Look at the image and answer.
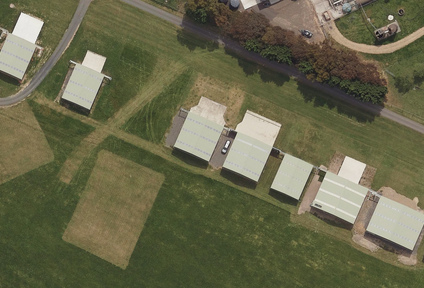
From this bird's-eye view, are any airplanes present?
No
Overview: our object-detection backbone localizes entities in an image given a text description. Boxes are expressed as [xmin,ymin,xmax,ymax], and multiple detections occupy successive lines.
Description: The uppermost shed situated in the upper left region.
[0,32,36,79]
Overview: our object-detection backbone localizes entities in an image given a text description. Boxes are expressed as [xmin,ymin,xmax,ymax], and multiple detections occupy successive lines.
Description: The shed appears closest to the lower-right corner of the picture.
[366,196,424,249]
